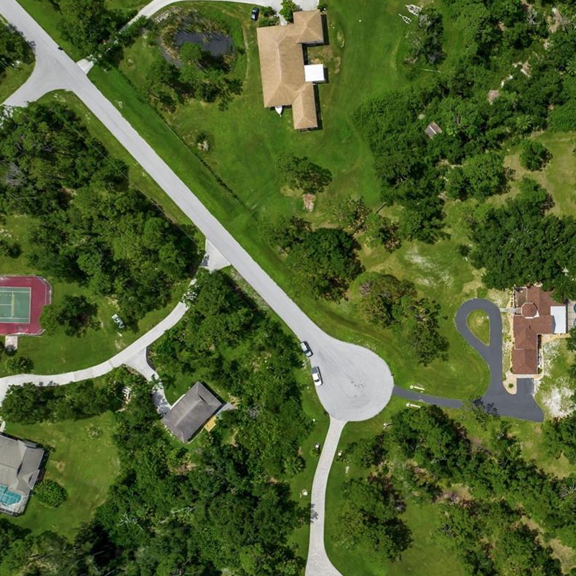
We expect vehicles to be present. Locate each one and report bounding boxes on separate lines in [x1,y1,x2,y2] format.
[300,341,313,357]
[312,366,323,386]
[112,314,124,326]
[252,7,260,21]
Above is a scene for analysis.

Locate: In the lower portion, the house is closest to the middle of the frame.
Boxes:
[162,381,224,442]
